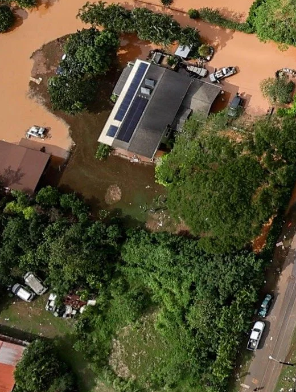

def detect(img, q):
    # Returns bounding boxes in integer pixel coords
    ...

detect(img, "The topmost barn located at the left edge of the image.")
[0,141,56,196]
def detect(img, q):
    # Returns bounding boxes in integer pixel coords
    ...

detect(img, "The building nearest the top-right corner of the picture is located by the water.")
[98,59,223,164]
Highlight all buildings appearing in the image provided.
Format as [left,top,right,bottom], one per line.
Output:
[0,141,56,196]
[0,341,27,392]
[98,59,223,164]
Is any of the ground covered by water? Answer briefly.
Yes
